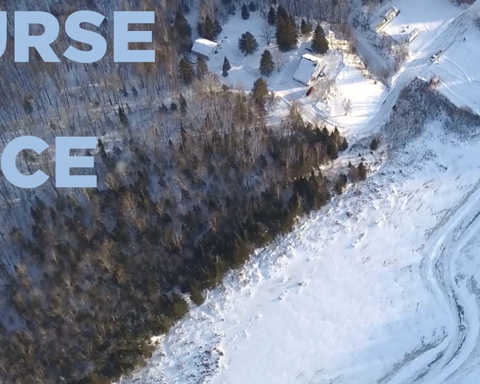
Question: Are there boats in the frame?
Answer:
No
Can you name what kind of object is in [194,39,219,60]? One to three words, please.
building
